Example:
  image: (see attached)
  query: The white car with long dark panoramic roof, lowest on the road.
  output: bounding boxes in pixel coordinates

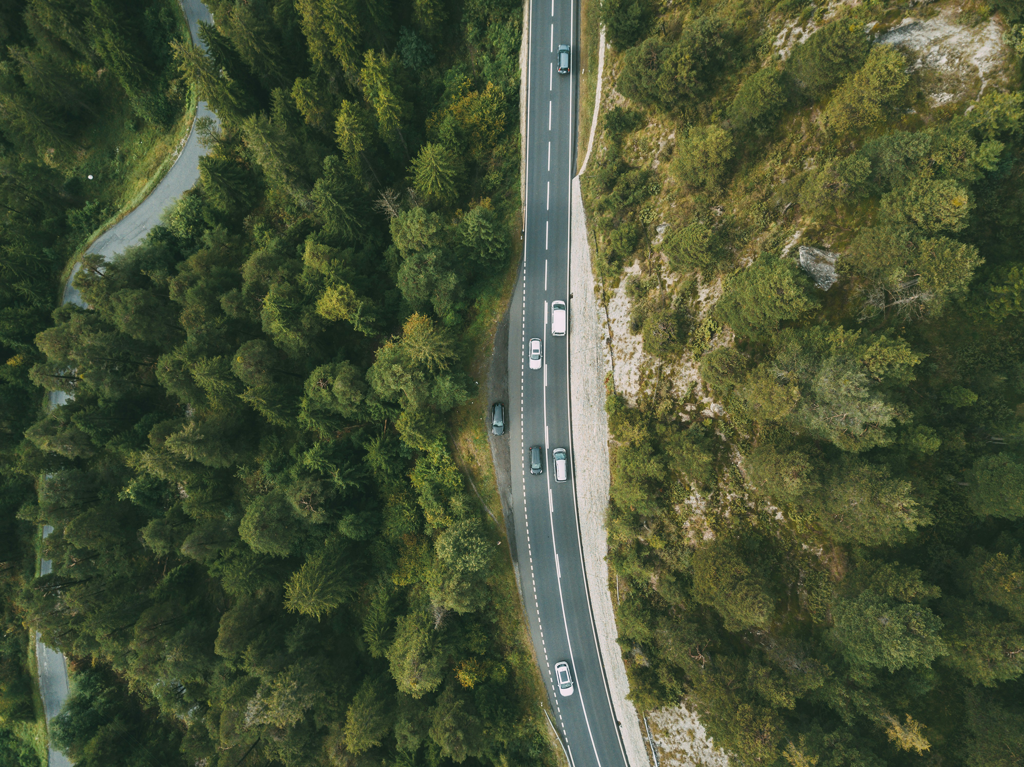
[555,661,573,695]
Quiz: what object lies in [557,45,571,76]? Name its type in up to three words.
car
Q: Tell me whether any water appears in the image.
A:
No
